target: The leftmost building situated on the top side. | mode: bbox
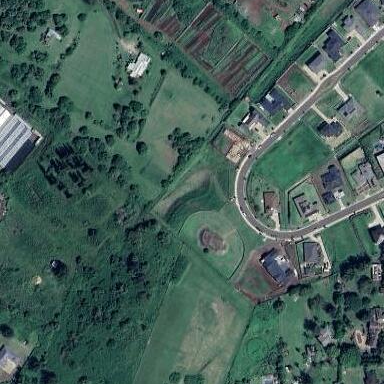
[0,107,37,175]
